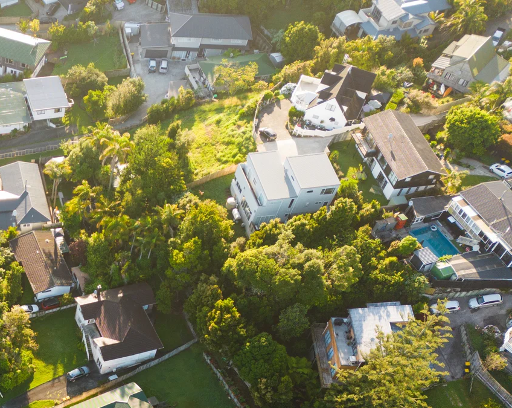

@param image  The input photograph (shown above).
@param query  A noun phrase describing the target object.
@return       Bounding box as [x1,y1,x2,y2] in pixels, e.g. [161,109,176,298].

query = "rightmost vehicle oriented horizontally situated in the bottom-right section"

[473,294,499,308]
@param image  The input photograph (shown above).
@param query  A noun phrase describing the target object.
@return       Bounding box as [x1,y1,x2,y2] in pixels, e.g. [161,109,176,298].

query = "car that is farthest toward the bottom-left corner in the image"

[65,366,91,382]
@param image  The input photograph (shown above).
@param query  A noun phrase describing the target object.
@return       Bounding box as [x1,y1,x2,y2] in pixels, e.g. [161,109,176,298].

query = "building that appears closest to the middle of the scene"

[232,151,340,223]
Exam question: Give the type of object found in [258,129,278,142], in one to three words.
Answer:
vehicle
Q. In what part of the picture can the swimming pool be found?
right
